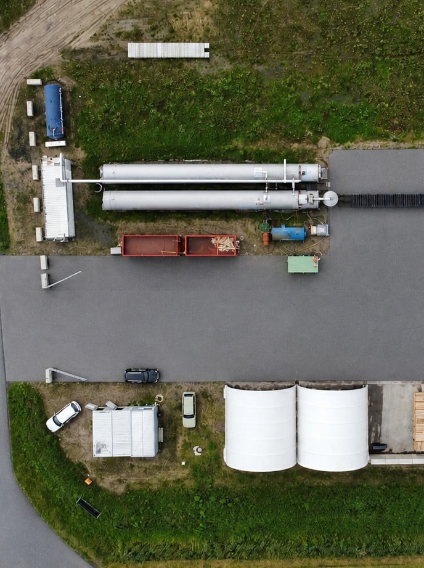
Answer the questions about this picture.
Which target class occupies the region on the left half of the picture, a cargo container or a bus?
cargo container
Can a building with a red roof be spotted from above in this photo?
No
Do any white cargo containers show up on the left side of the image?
Yes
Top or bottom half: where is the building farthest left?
bottom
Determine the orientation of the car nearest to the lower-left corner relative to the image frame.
on a diagonal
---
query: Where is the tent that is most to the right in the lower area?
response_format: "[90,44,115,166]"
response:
[298,386,369,472]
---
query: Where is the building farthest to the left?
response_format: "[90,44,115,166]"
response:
[89,402,116,456]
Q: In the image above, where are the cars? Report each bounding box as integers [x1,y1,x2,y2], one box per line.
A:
[180,391,197,428]
[46,400,82,432]
[125,367,160,385]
